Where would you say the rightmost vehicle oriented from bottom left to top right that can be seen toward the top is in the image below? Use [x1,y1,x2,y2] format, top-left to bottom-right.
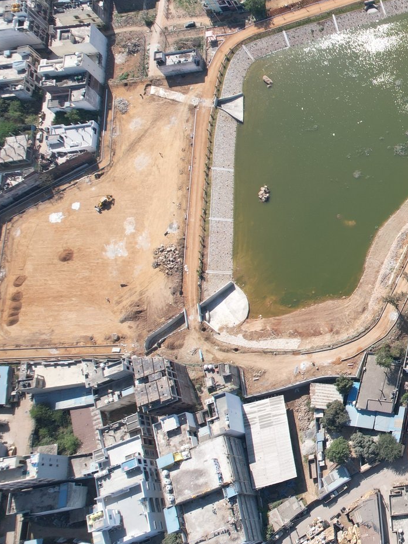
[95,193,117,214]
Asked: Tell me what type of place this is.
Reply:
residential area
